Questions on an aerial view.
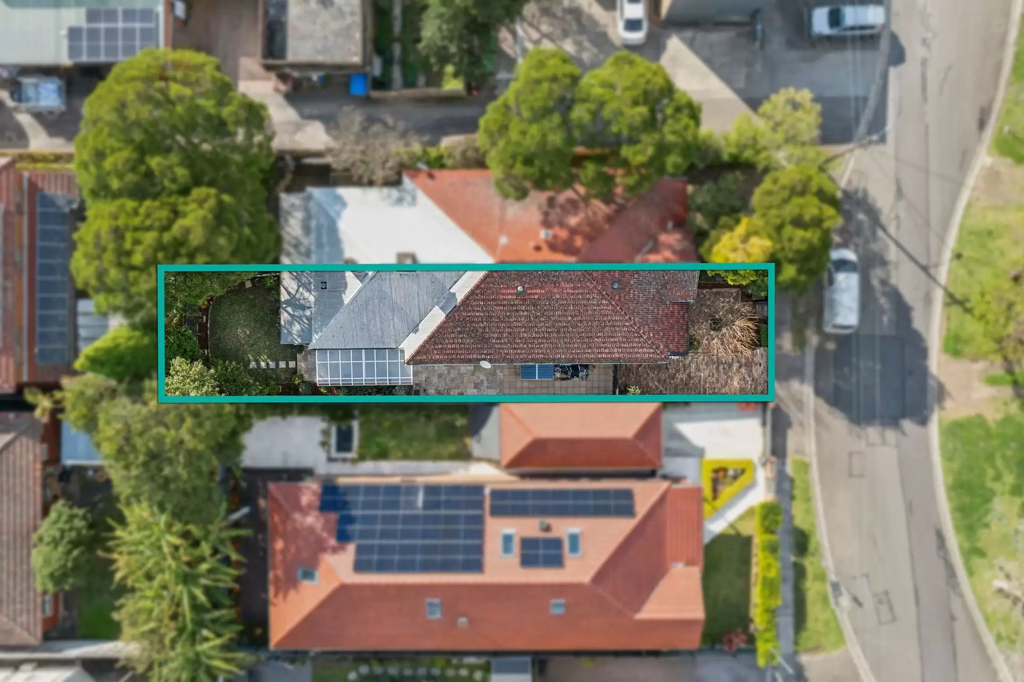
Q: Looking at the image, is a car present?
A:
Yes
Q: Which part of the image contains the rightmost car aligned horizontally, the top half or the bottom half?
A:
top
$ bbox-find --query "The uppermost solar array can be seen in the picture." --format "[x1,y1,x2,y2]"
[67,8,155,60]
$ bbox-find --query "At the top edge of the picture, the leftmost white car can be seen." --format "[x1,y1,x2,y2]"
[617,0,649,44]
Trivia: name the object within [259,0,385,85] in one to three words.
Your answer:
building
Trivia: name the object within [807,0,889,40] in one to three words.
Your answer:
car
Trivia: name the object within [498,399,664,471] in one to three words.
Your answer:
building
